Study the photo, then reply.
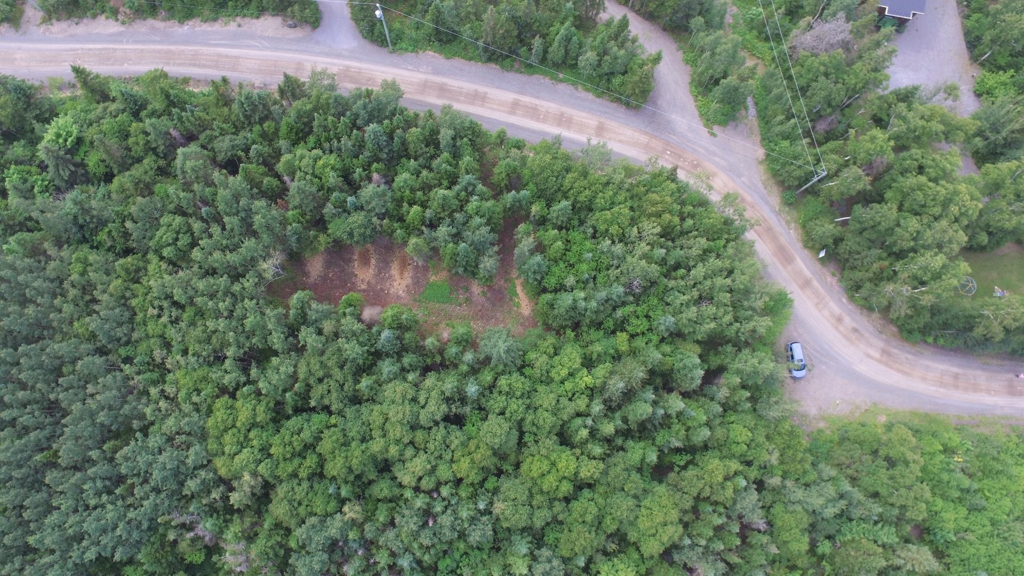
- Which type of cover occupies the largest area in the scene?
trees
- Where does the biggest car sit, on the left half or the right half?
right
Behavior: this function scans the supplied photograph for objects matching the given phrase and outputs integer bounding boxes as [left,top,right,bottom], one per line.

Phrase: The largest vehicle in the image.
[785,343,808,381]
